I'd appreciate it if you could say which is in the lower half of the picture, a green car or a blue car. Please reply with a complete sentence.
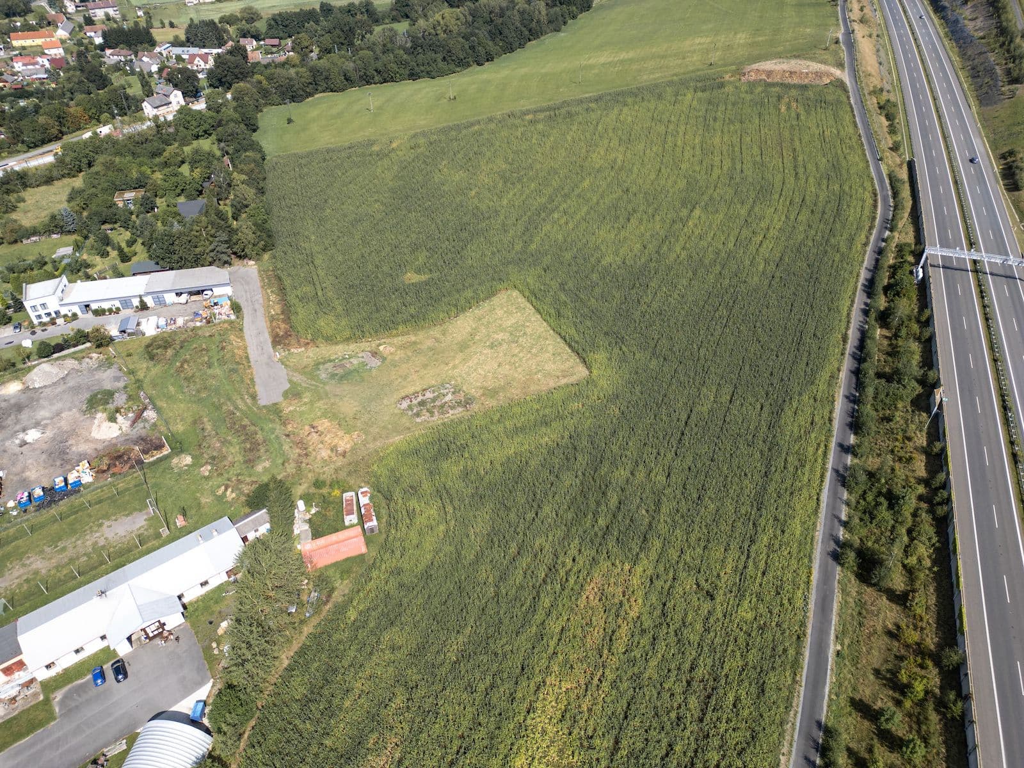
What appears in the lower half of the picture is a blue car.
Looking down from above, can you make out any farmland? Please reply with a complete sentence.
Yes, there is farmland in the image.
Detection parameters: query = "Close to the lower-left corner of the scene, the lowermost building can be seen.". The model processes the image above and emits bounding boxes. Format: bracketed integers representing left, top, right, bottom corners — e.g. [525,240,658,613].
[112,713,207,768]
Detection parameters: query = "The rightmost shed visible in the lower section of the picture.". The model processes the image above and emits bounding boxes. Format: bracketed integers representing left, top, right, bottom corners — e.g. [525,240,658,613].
[301,526,368,572]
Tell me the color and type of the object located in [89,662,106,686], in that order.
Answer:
blue car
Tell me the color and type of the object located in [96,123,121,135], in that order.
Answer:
white vehicle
